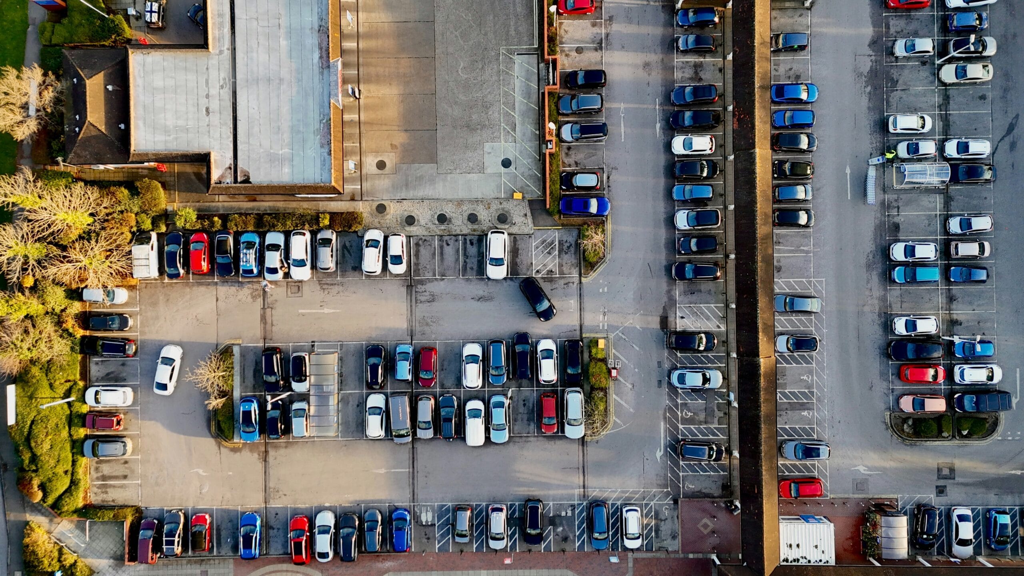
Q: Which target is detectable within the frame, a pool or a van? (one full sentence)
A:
Of the two, only a van appears.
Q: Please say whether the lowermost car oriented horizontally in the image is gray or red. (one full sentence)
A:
From above, the lowermost car oriented horizontally appears red.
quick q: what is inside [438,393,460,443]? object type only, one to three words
truck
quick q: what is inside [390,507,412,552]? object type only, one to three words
car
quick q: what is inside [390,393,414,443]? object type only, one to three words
vehicle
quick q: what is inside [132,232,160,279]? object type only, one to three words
van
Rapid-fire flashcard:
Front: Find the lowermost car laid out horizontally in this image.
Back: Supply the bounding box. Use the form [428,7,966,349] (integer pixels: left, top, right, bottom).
[778,477,823,499]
